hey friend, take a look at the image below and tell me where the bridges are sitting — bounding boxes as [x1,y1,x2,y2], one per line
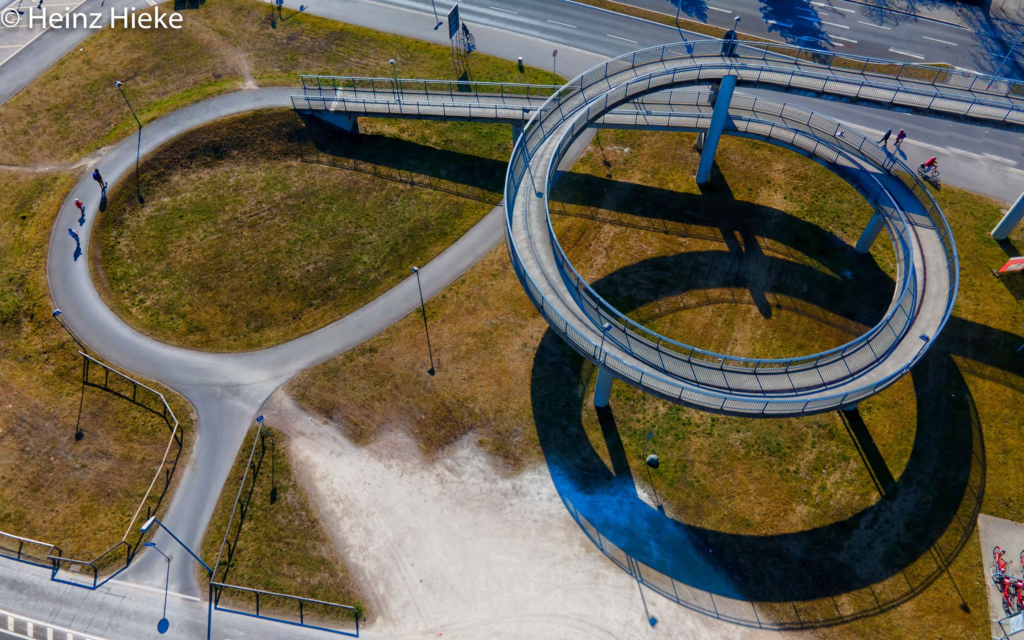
[289,31,1024,418]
